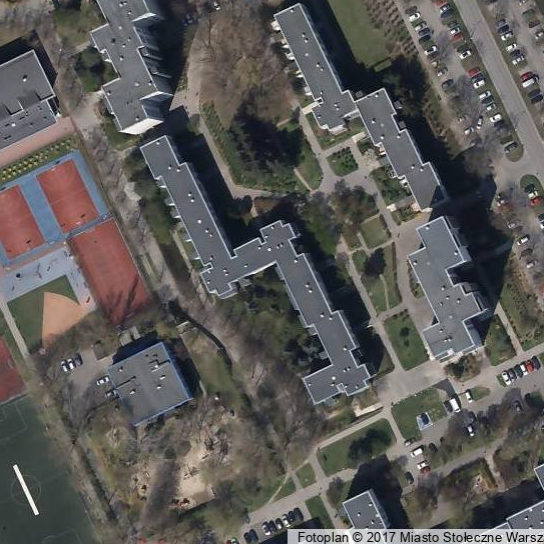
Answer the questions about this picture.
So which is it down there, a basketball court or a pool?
basketball court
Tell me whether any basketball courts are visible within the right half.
No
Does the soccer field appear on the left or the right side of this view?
left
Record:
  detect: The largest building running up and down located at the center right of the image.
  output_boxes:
[407,217,491,365]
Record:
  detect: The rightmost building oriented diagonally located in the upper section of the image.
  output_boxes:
[357,89,452,216]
